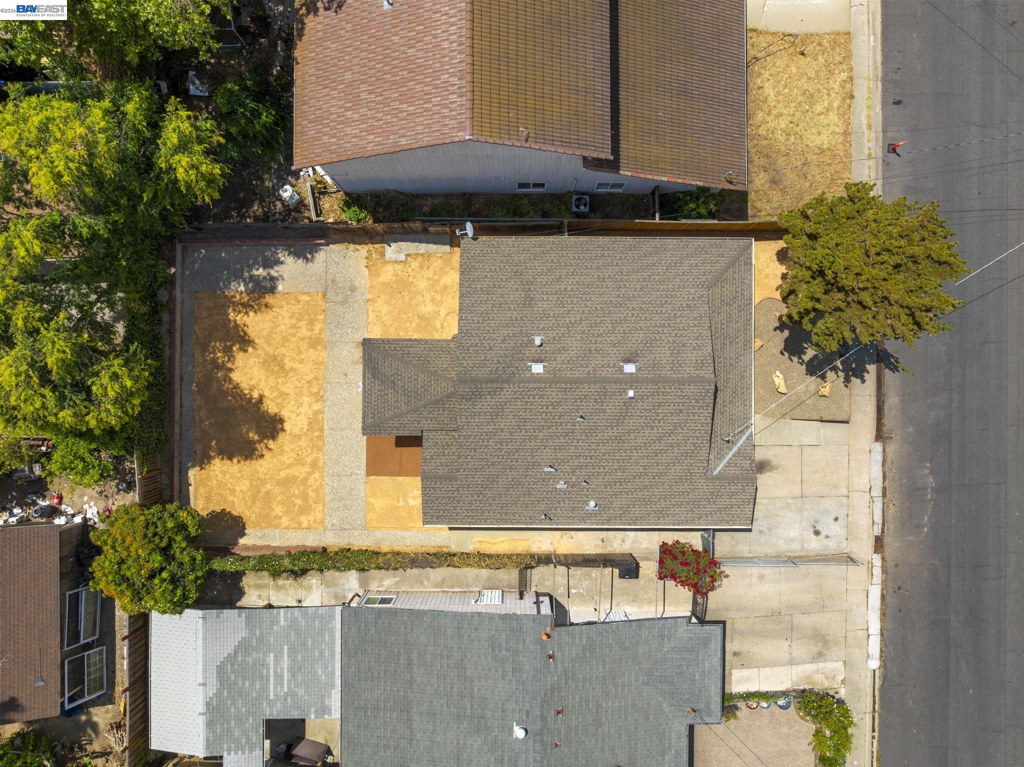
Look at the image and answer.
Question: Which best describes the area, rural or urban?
urban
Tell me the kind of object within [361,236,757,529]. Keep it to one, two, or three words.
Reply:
house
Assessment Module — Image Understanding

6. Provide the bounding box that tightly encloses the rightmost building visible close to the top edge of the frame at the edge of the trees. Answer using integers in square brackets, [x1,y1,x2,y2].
[291,0,749,194]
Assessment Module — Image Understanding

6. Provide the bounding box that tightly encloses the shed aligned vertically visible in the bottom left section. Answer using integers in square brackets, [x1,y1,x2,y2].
[0,518,113,733]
